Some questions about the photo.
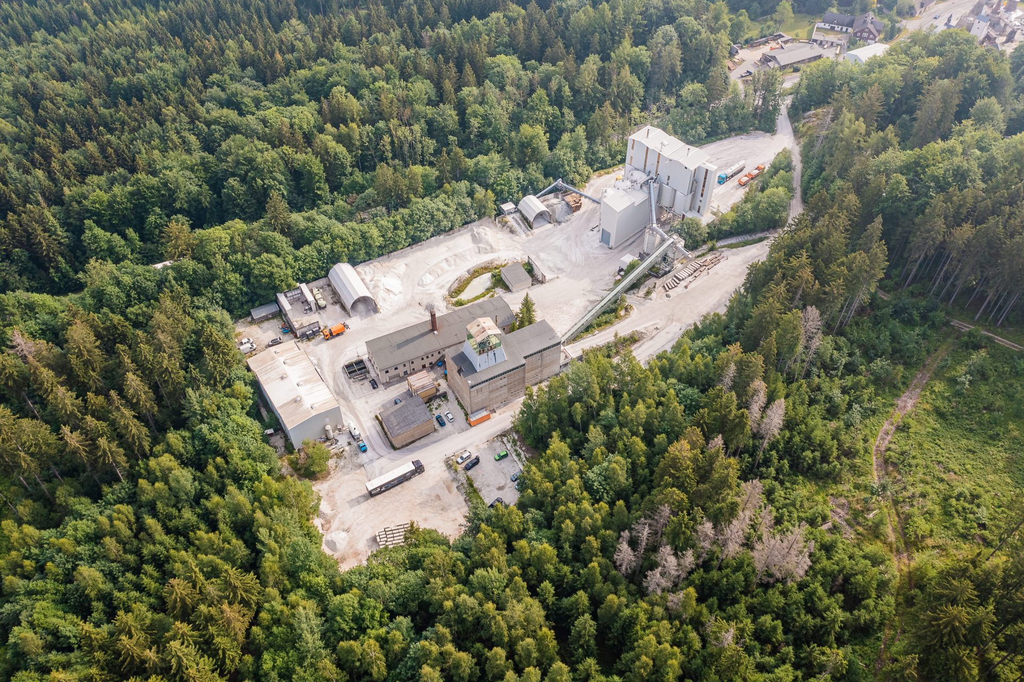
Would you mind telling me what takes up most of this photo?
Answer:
trees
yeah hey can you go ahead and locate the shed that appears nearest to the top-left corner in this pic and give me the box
[248,296,279,321]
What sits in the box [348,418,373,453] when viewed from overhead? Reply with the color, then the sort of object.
white truck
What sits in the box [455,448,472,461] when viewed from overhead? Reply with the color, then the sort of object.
white vehicle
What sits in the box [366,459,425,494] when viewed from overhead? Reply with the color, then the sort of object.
white truck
